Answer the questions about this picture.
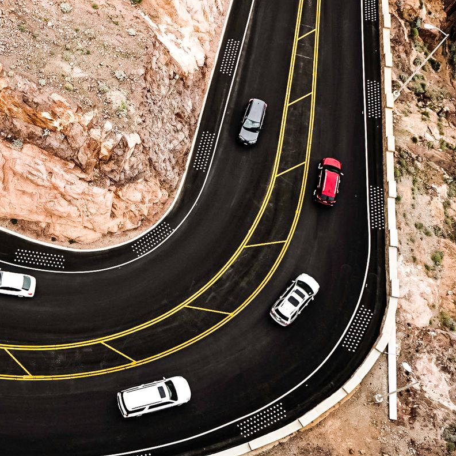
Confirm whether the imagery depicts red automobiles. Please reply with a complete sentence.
Yes, the picture does show a red automobile.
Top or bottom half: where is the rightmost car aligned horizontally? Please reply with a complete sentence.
The rightmost car aligned horizontally is in the bottom half of the image.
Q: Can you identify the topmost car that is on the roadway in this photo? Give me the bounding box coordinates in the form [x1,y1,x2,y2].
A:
[238,96,268,146]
